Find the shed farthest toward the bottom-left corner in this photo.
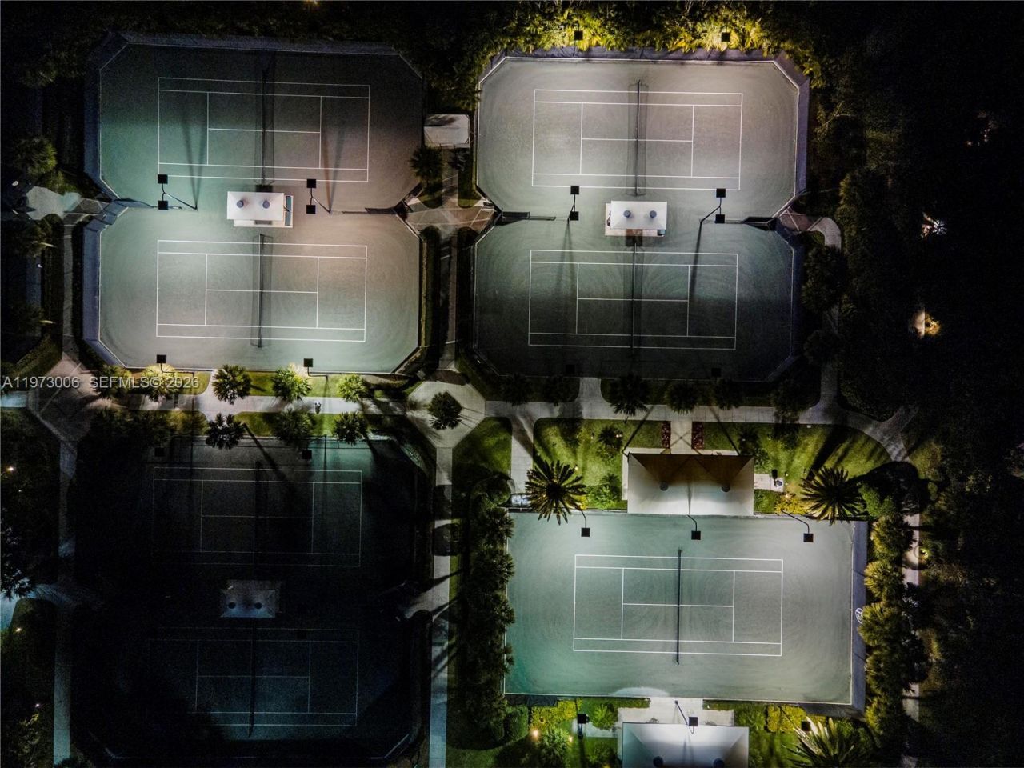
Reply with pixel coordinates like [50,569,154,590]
[221,576,294,616]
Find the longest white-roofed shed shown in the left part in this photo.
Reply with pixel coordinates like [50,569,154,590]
[226,191,303,231]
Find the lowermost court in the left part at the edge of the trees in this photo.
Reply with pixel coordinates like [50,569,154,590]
[92,589,413,758]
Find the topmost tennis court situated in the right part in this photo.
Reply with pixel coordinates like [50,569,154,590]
[476,57,799,217]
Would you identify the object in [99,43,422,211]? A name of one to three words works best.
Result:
tennis court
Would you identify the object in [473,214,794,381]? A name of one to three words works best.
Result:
tennis court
